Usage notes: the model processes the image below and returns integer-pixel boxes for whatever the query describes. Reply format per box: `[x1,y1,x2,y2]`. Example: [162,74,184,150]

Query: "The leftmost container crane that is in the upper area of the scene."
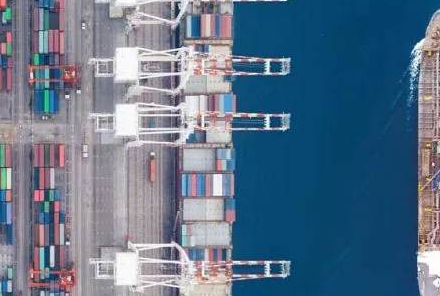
[28,61,83,88]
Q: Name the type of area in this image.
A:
port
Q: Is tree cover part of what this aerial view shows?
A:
No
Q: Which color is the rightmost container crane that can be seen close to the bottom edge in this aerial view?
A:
white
